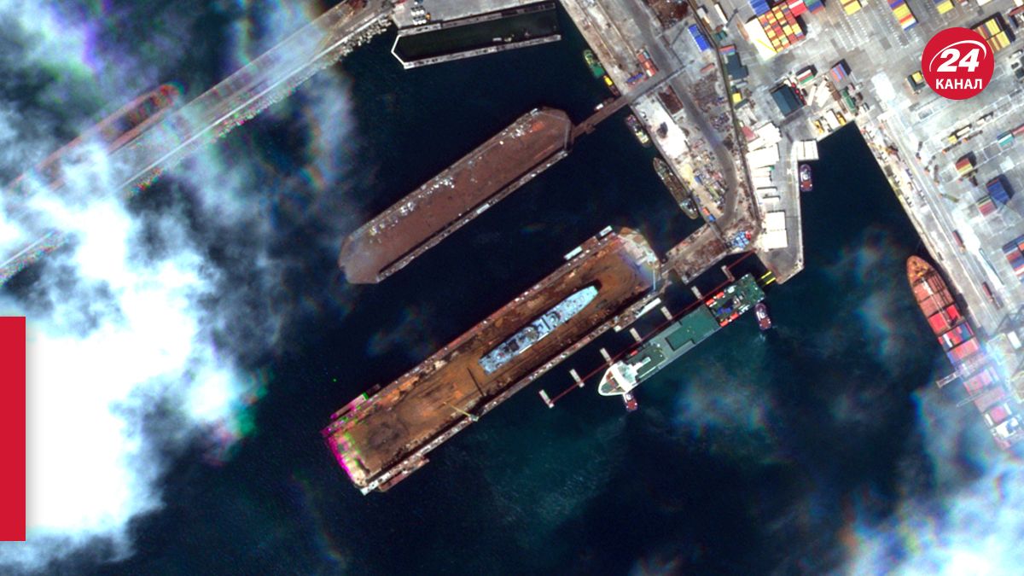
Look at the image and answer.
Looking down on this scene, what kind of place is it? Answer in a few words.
port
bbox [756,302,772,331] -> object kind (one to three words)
boat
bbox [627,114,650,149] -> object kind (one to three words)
boat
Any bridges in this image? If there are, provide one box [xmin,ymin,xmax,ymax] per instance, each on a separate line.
[569,95,634,142]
